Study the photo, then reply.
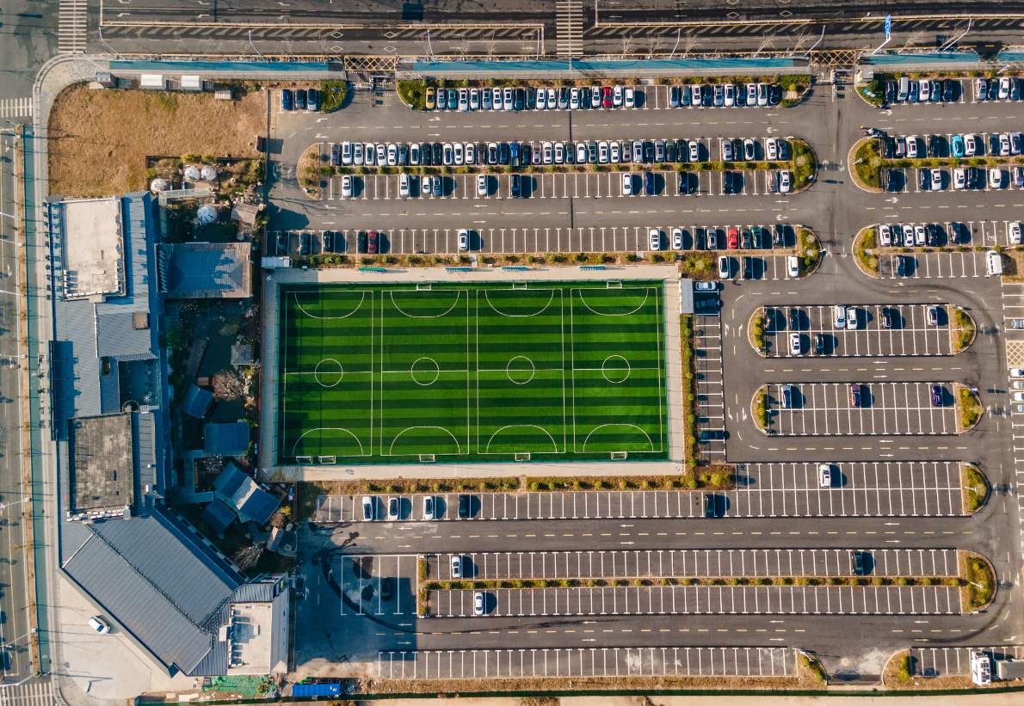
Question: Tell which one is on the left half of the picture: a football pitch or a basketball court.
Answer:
football pitch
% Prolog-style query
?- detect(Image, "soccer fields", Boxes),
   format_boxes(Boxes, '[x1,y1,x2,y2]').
[567,279,669,462]
[277,282,377,465]
[472,280,570,463]
[376,281,473,464]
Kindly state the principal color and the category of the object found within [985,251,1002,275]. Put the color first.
white vehicle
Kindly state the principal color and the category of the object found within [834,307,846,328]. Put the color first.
white vehicle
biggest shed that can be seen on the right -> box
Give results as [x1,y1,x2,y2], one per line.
[678,279,693,314]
